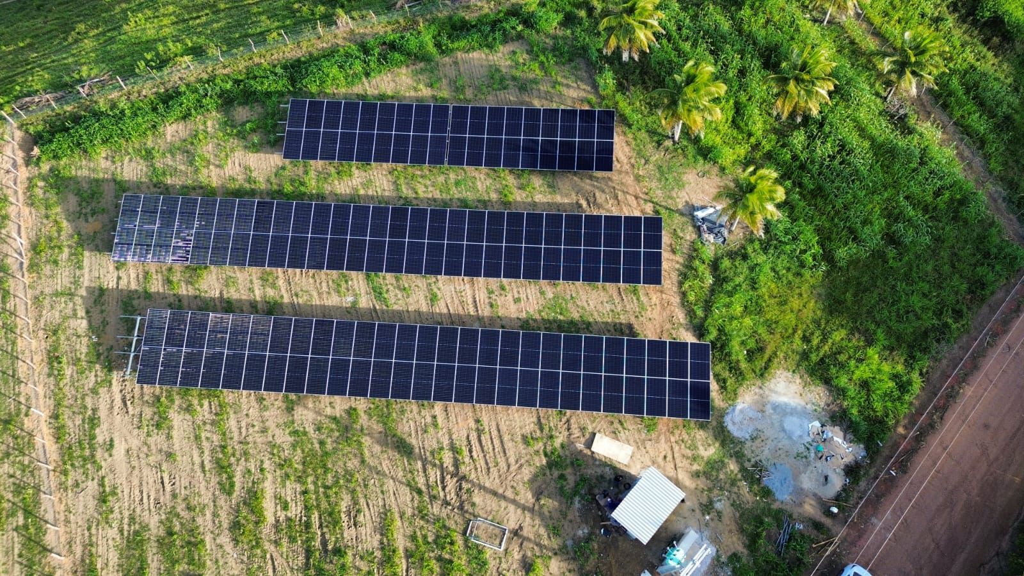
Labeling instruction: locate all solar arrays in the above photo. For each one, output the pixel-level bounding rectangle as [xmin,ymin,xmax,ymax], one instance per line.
[112,308,712,421]
[277,97,615,172]
[110,193,663,286]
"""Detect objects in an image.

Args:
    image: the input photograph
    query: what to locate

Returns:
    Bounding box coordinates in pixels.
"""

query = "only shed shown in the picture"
[611,467,685,544]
